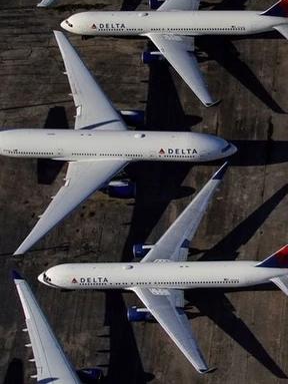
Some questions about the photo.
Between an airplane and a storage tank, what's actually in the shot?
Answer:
airplane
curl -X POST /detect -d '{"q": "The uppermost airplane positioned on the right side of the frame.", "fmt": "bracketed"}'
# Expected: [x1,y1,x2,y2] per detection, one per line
[59,0,288,105]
